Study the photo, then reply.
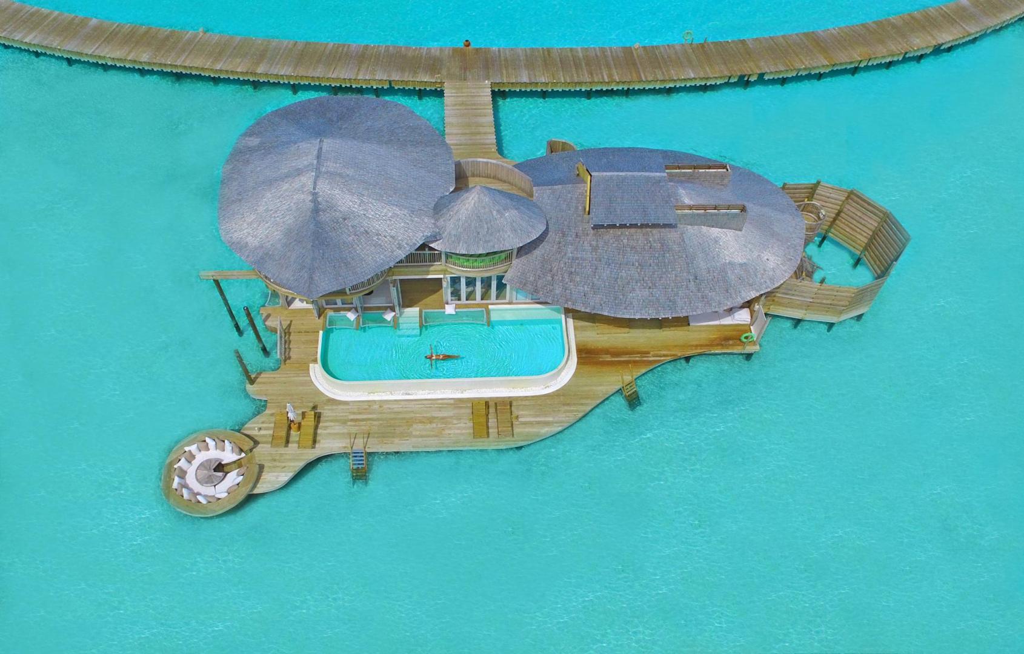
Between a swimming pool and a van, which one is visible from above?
swimming pool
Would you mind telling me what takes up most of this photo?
water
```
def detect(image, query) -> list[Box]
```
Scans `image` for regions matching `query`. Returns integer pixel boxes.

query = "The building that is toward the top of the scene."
[218,94,806,320]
